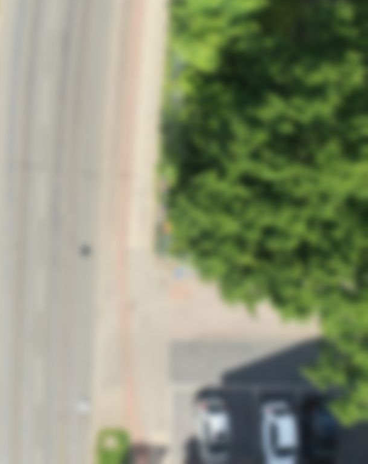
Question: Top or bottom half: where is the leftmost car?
bottom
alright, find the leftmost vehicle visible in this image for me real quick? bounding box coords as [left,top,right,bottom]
[191,392,230,464]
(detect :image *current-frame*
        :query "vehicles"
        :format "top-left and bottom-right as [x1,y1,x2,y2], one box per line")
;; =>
[191,392,230,464]
[256,393,300,464]
[308,397,351,464]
